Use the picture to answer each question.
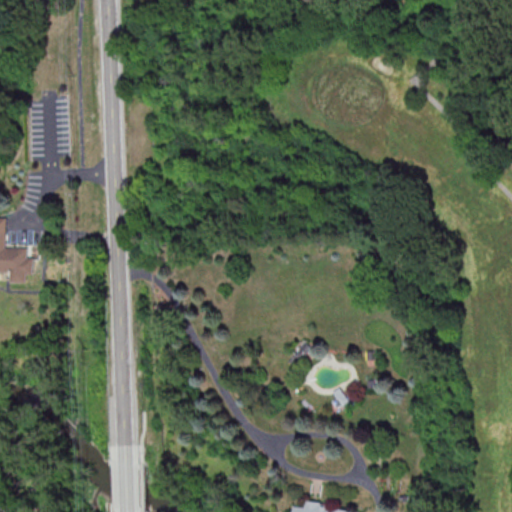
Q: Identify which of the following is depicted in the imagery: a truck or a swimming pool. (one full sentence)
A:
There is a swimming pool in the scene.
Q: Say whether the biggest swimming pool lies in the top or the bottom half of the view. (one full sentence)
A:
The biggest swimming pool is in the bottom half of the image.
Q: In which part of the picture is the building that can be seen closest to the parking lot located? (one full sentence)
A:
You can find the building that can be seen closest to the parking lot in the left area of the picture.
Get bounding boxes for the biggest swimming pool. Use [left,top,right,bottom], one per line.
[306,354,358,394]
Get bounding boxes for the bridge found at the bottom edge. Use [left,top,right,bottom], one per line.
[106,445,154,512]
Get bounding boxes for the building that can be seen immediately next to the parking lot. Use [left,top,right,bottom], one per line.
[0,218,40,283]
